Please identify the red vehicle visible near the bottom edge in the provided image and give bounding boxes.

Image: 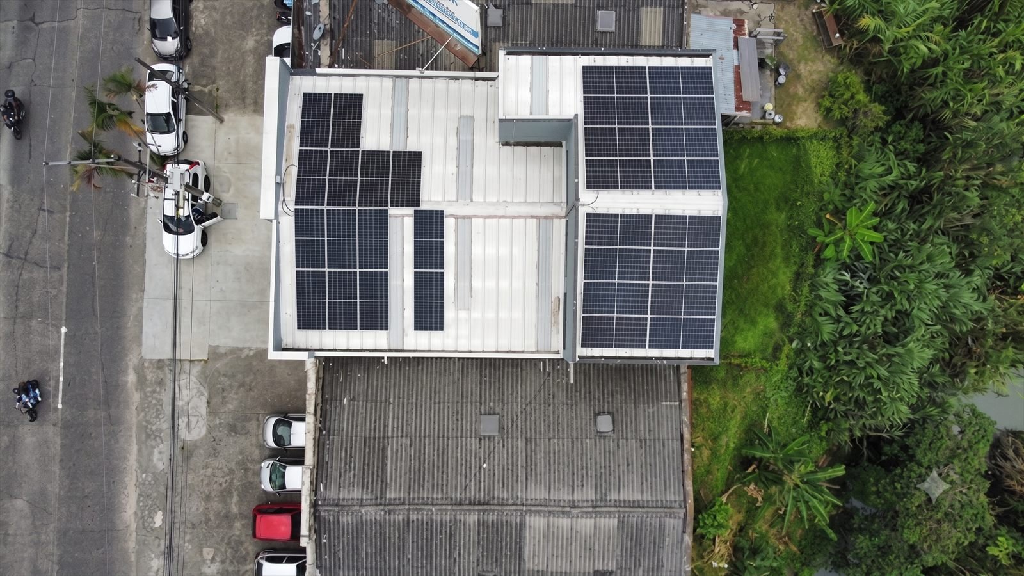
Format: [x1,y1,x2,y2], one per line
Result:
[250,502,304,548]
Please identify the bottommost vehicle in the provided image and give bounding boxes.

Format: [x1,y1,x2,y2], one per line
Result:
[250,548,306,576]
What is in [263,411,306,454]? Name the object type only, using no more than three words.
car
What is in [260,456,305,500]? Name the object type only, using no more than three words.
car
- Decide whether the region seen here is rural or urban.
urban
